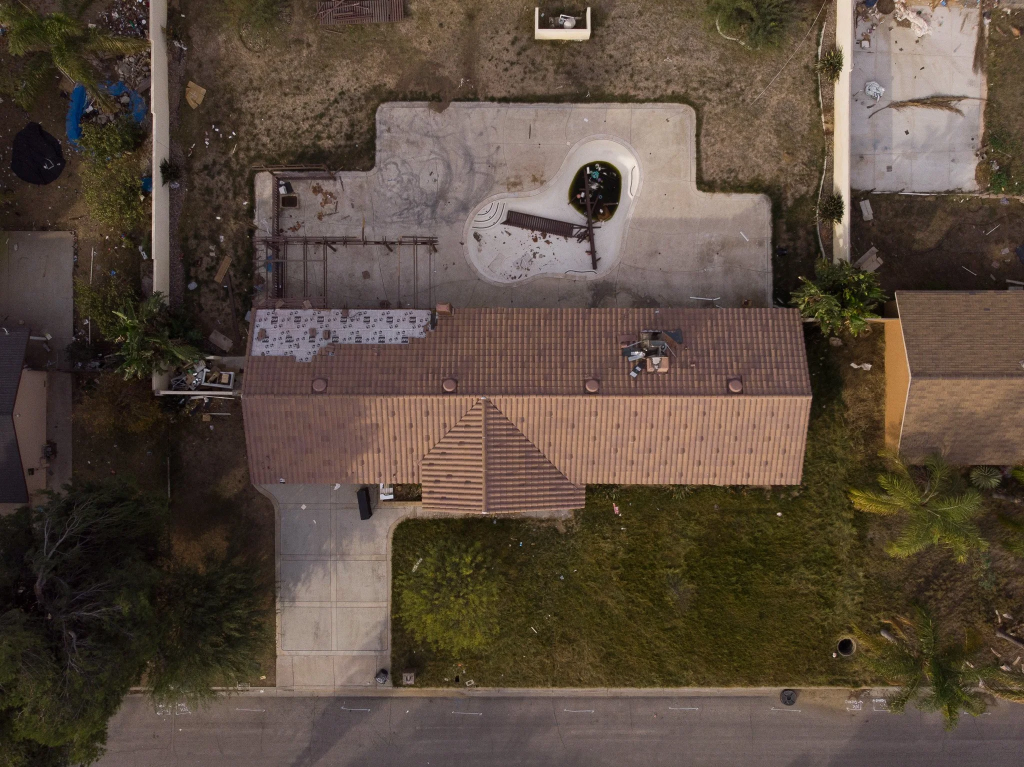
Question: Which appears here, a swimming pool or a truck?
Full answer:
Looking from above, you can make out a swimming pool.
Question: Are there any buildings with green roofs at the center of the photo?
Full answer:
No, the scene shows no building with a green roof at the center of the photo.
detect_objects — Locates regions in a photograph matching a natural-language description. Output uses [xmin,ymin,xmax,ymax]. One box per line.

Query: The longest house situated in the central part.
[240,303,814,518]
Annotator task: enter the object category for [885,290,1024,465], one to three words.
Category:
house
